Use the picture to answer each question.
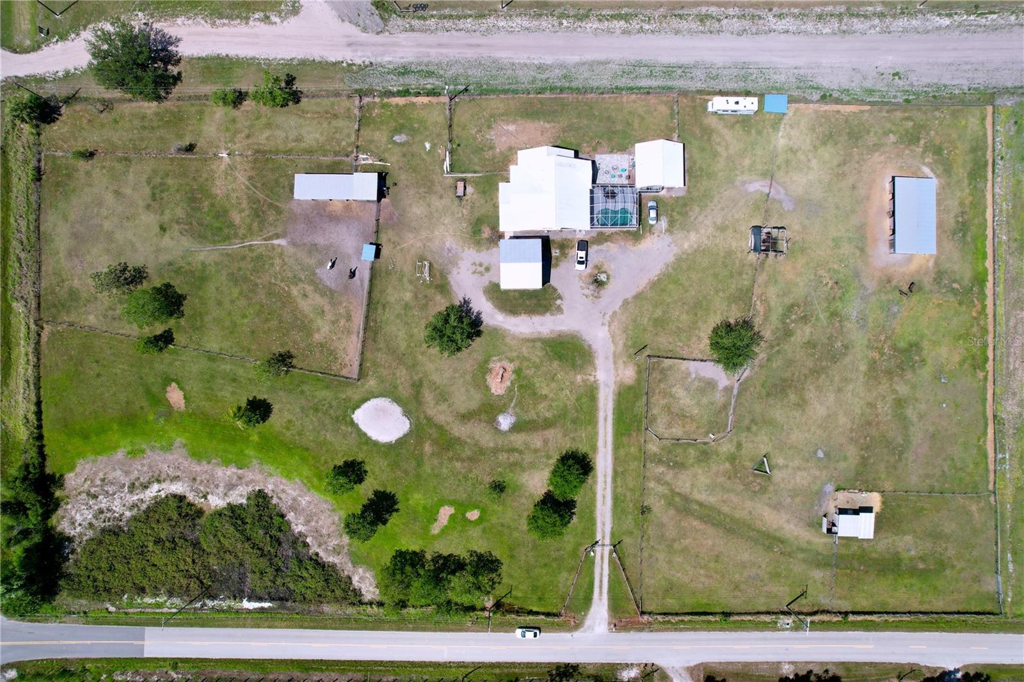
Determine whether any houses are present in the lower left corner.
No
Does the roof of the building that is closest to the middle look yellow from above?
No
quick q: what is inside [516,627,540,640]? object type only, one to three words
vehicle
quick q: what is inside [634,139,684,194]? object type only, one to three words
house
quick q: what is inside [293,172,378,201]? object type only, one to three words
barn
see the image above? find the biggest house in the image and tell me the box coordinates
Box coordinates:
[499,145,593,235]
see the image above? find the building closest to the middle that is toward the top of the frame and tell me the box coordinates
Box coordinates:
[500,239,542,289]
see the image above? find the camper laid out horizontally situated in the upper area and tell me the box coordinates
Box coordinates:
[706,97,760,114]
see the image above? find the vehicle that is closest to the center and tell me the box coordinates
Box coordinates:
[575,240,588,271]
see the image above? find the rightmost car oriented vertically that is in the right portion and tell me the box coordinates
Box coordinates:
[647,200,659,224]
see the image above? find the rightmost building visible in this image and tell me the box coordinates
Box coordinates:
[886,174,936,254]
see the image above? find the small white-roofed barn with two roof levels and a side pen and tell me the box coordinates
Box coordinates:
[822,509,875,538]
